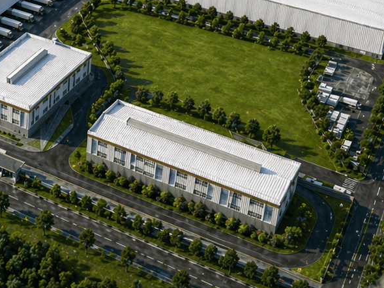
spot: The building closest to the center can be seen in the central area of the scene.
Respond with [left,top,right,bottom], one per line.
[86,97,303,234]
